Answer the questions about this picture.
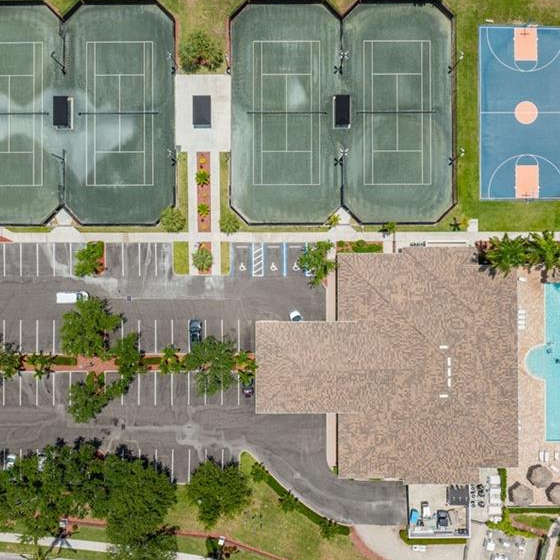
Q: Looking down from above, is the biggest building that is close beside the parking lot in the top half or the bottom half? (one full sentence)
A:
The bottom half of the photo is where the biggest building that is close beside the parking lot is.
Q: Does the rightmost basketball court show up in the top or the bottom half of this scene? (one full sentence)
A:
The rightmost basketball court is in the top half of the image.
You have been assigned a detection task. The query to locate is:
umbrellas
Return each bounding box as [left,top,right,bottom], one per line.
[509,483,534,507]
[529,465,553,489]
[548,484,560,507]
